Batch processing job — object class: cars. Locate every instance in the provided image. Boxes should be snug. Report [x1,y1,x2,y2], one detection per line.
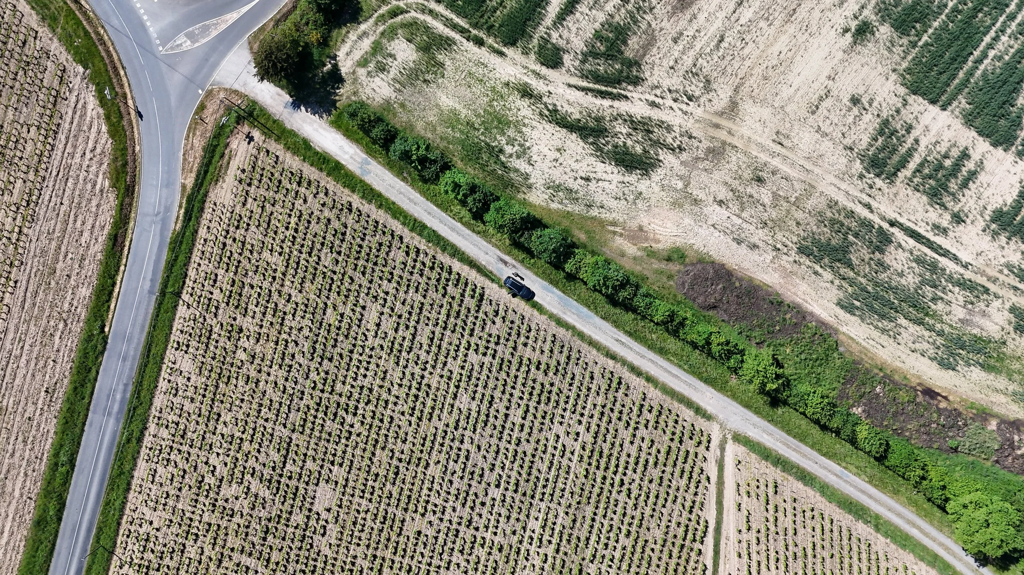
[502,275,537,302]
